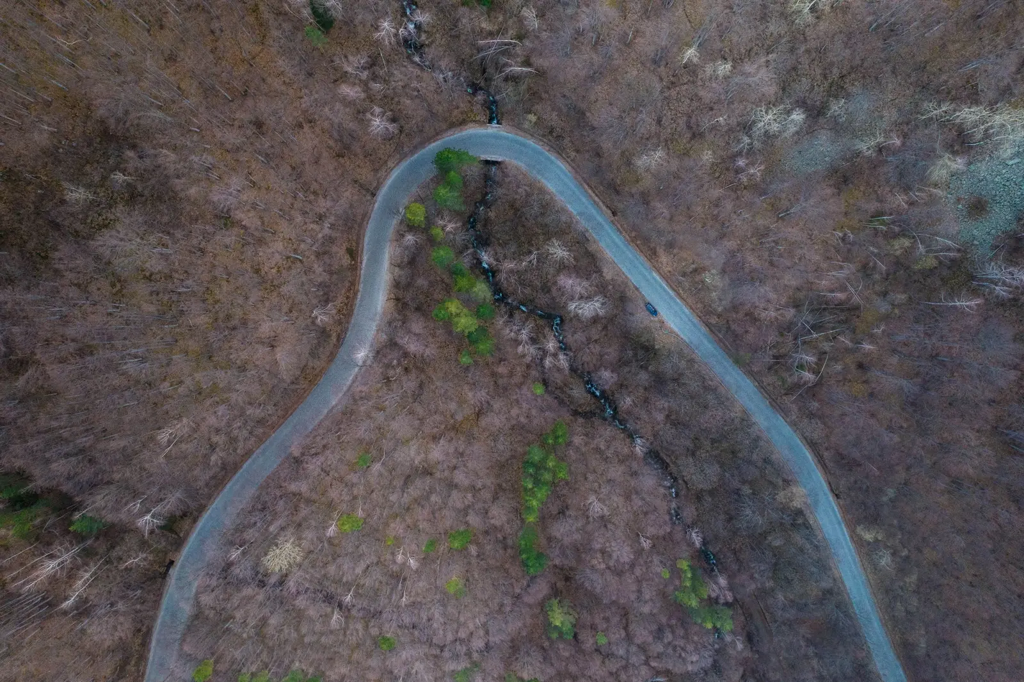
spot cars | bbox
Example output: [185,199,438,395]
[644,302,658,318]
